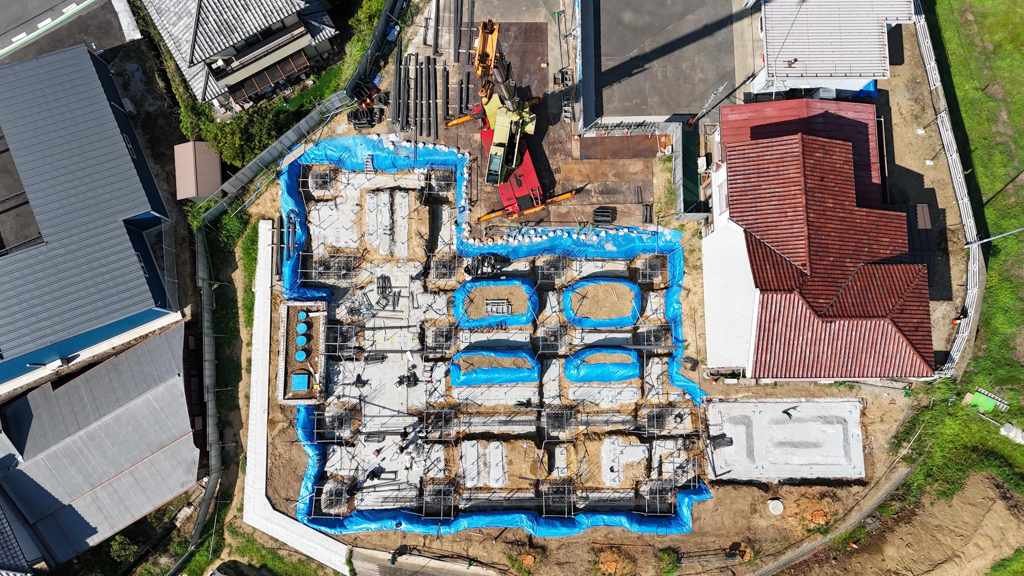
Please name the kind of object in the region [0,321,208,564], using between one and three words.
building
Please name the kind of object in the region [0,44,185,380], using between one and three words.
building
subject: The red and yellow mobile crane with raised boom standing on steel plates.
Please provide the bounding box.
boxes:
[443,21,576,227]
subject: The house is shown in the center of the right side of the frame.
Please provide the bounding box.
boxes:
[698,99,939,379]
